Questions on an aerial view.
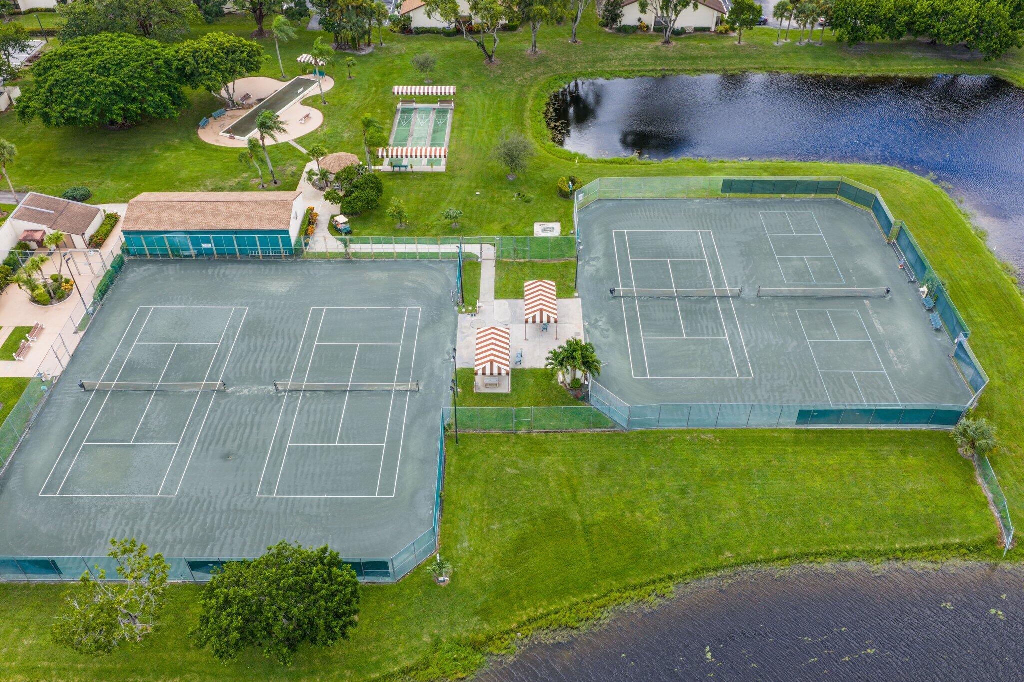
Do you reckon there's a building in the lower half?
No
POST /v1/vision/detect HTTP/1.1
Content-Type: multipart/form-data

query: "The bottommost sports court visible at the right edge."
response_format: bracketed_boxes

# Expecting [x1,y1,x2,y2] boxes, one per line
[760,296,977,430]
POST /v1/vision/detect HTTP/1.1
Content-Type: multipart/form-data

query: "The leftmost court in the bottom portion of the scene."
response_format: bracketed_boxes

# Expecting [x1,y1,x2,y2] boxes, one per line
[0,259,296,580]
